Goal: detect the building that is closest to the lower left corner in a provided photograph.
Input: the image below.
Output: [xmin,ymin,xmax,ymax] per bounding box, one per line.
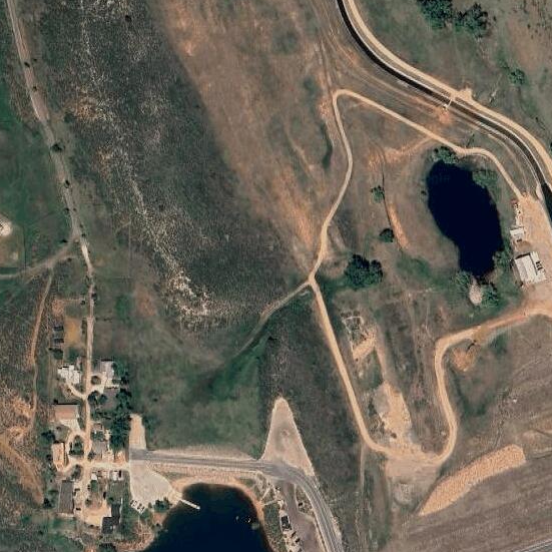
[58,480,74,513]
